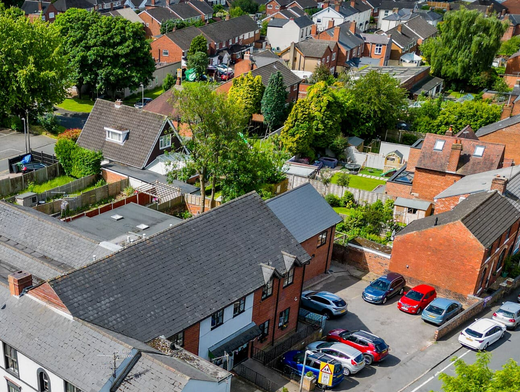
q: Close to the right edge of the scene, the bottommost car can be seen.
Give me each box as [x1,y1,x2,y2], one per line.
[461,316,511,350]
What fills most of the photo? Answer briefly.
buildings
